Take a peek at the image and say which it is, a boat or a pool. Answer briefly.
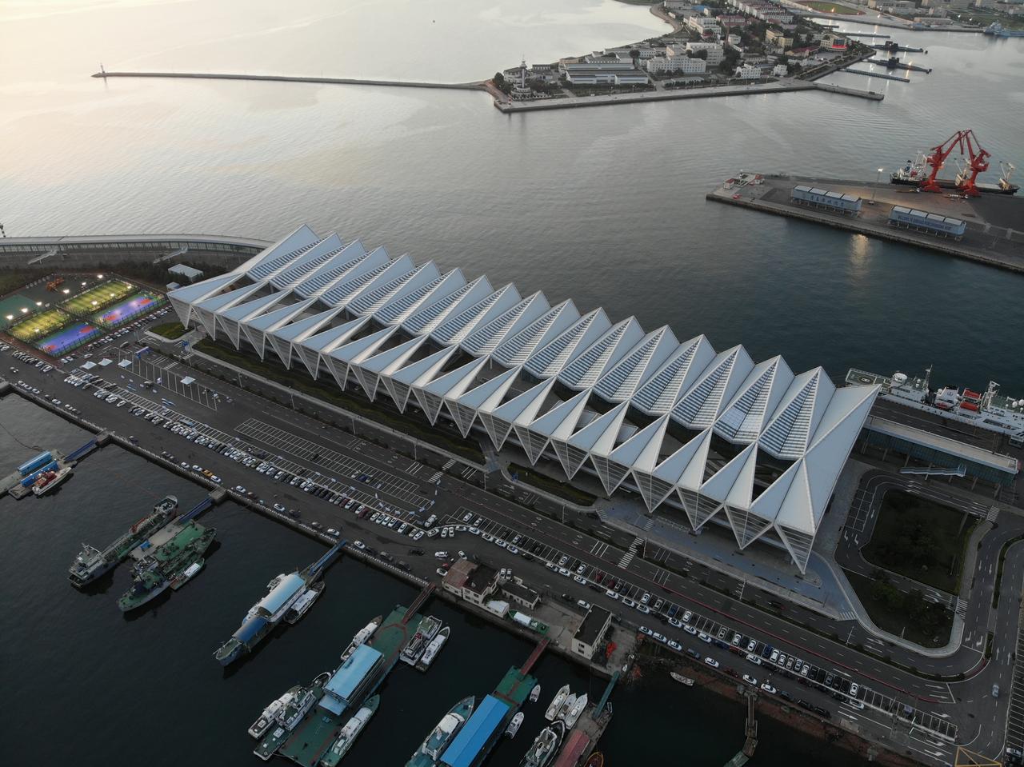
boat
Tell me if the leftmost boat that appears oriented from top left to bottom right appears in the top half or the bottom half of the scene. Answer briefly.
bottom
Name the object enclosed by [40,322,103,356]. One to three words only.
basketball court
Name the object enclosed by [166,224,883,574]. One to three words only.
building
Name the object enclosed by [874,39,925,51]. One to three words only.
ship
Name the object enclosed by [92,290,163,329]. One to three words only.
basketball court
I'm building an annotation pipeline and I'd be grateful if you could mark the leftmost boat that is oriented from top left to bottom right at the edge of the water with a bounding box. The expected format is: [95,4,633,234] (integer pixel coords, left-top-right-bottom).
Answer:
[508,606,550,640]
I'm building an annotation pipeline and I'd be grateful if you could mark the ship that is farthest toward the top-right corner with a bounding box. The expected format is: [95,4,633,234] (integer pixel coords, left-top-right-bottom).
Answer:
[983,20,1024,41]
